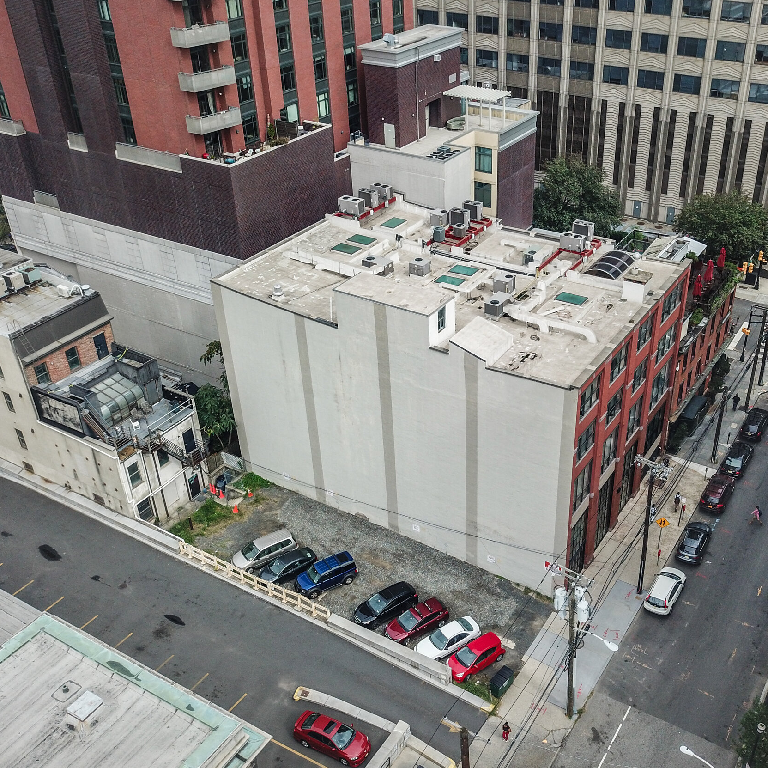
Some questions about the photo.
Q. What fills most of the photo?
buildings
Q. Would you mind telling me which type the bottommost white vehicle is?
car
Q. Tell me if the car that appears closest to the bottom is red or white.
red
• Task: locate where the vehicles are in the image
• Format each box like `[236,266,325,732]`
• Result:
[291,706,373,765]
[722,441,757,477]
[385,594,453,646]
[643,563,690,615]
[255,537,320,583]
[224,520,297,574]
[294,547,359,599]
[415,612,484,662]
[699,474,739,513]
[740,409,768,442]
[445,632,509,682]
[673,518,715,564]
[350,579,417,628]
